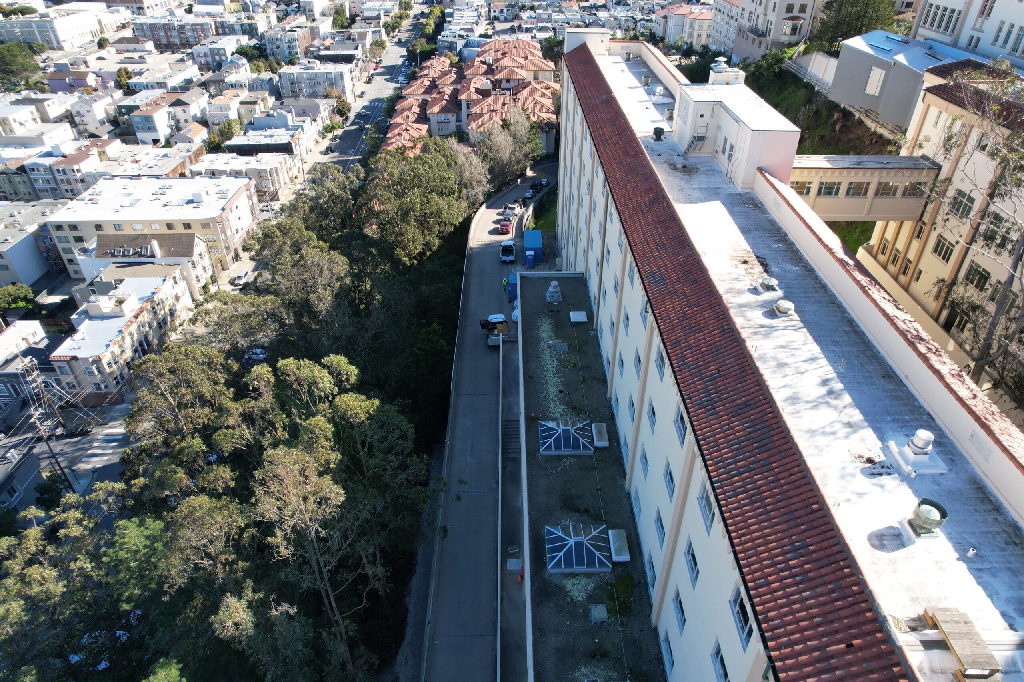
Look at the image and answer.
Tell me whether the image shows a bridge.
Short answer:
Yes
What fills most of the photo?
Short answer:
buildings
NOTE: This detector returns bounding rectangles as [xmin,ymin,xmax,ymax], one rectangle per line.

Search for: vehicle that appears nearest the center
[477,313,508,343]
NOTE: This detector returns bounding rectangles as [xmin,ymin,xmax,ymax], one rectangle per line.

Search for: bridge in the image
[789,154,942,223]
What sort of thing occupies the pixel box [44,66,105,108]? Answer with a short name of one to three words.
house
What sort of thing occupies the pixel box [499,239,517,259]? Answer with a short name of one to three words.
vehicle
